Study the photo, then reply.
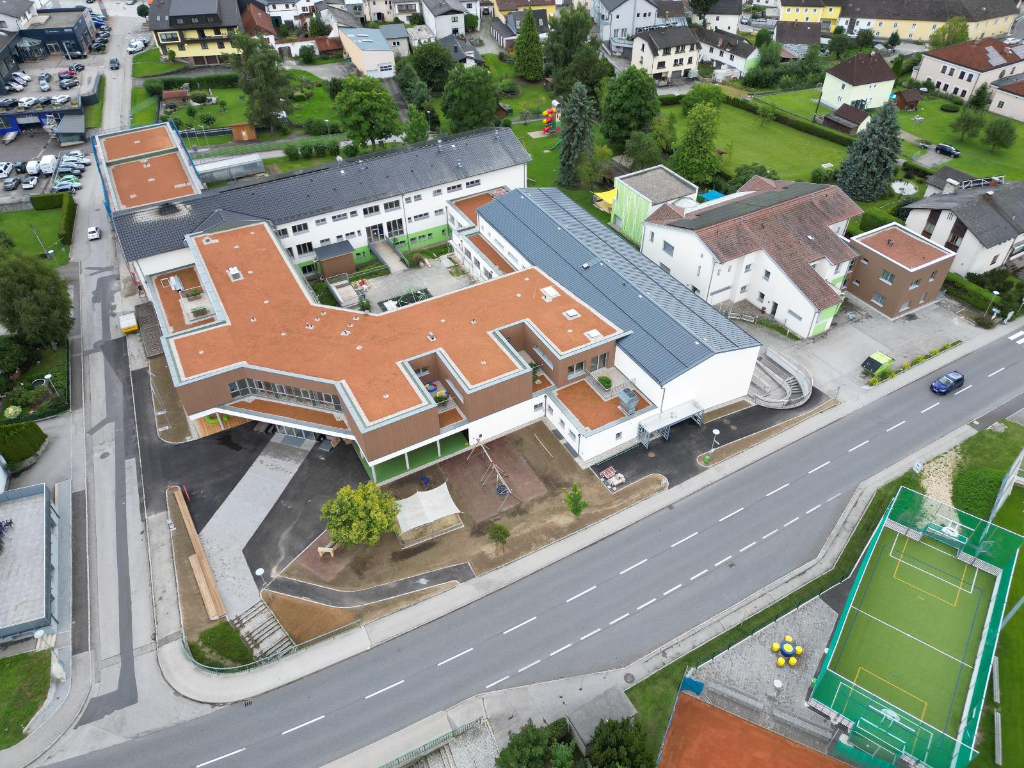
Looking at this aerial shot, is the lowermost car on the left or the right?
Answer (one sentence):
It is on the right.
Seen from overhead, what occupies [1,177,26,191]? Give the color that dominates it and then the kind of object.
gray car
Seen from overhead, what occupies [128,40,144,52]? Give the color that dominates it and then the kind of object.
white vehicle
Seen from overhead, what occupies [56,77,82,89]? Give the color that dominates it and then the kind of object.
gray vehicle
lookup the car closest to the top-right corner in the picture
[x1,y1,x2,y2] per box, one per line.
[934,142,962,158]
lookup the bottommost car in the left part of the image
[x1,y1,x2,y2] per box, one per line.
[87,226,103,242]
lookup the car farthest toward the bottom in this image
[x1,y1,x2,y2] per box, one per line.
[928,367,967,395]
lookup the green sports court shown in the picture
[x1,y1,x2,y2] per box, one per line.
[804,488,1024,768]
